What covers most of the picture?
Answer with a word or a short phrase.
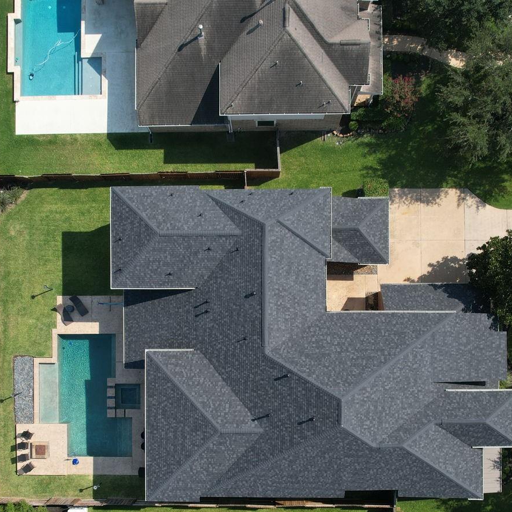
buildings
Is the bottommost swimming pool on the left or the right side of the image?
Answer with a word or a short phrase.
left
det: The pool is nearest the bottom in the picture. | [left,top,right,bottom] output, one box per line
[39,334,140,457]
